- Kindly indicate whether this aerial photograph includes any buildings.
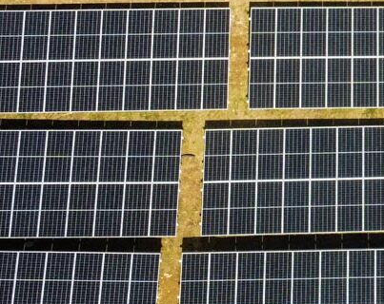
No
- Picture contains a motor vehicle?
No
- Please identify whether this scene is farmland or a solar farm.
solar farm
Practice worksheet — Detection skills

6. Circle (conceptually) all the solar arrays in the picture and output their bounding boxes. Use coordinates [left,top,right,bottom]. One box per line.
[247,6,384,108]
[200,126,384,236]
[179,249,384,304]
[0,130,184,237]
[0,9,231,112]
[0,252,162,304]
